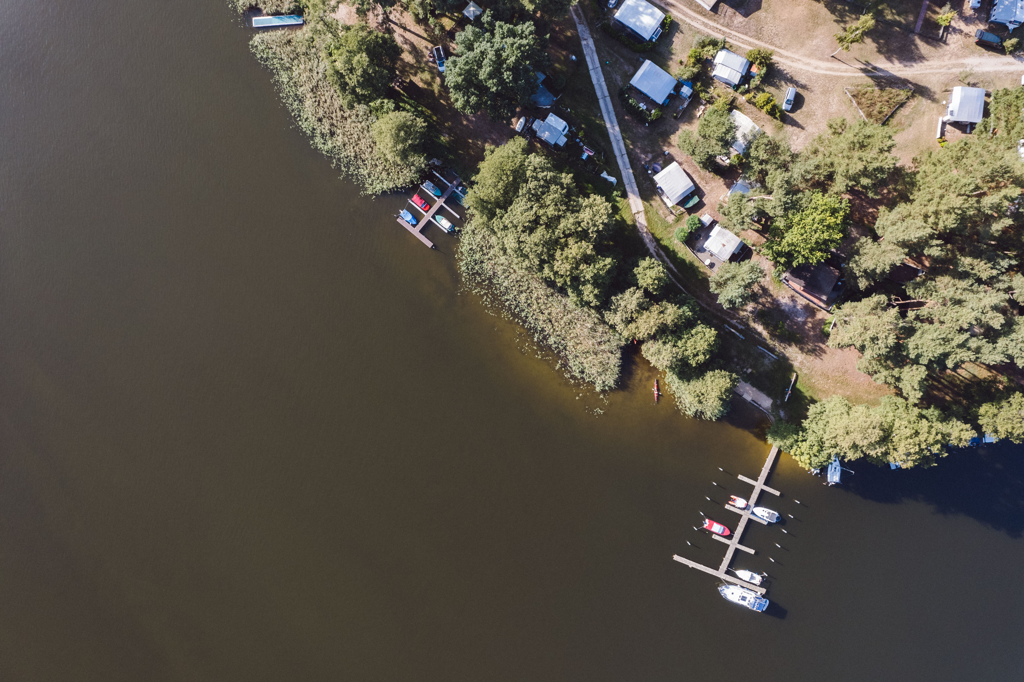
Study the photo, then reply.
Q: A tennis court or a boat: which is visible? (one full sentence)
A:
I can see a boat in this picture.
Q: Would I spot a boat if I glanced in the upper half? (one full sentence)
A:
Yes, you'll find a boat in the upper half.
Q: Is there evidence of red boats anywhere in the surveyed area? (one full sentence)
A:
Yes, looking at the shot, I can spot a red boat.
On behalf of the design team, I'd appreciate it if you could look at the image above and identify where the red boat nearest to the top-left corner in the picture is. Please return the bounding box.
[409,192,430,211]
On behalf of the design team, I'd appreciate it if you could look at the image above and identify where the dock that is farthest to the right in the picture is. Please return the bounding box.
[673,444,781,594]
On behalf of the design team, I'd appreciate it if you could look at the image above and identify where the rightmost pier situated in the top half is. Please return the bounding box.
[396,176,462,248]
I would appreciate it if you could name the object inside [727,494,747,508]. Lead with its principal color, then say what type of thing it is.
white boat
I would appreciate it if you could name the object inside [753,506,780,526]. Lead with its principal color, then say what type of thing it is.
white boat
